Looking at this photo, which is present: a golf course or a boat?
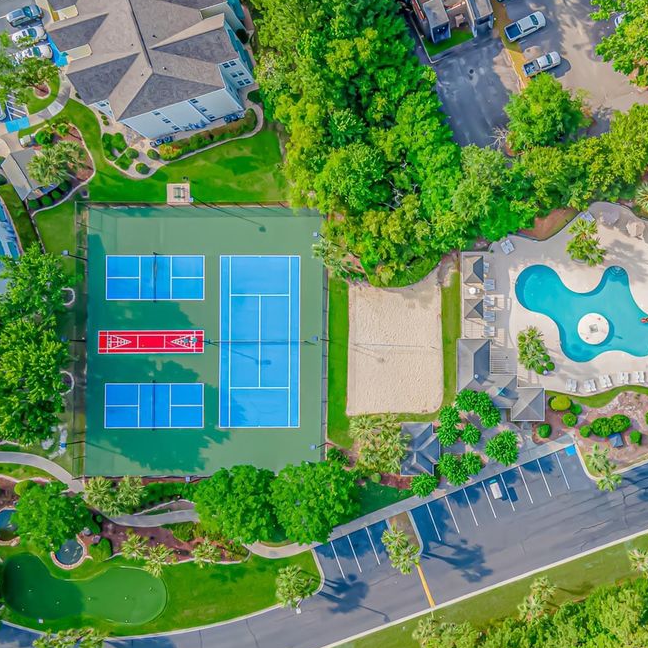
golf course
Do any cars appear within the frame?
Yes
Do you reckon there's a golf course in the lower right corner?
No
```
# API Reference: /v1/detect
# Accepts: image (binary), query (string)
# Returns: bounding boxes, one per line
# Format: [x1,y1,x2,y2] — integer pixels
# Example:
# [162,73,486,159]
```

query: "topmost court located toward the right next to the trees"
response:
[347,261,455,416]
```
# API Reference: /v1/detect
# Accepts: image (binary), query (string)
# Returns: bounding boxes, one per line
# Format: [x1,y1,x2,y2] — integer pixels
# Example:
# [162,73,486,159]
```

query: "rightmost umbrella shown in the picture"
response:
[626,219,645,237]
